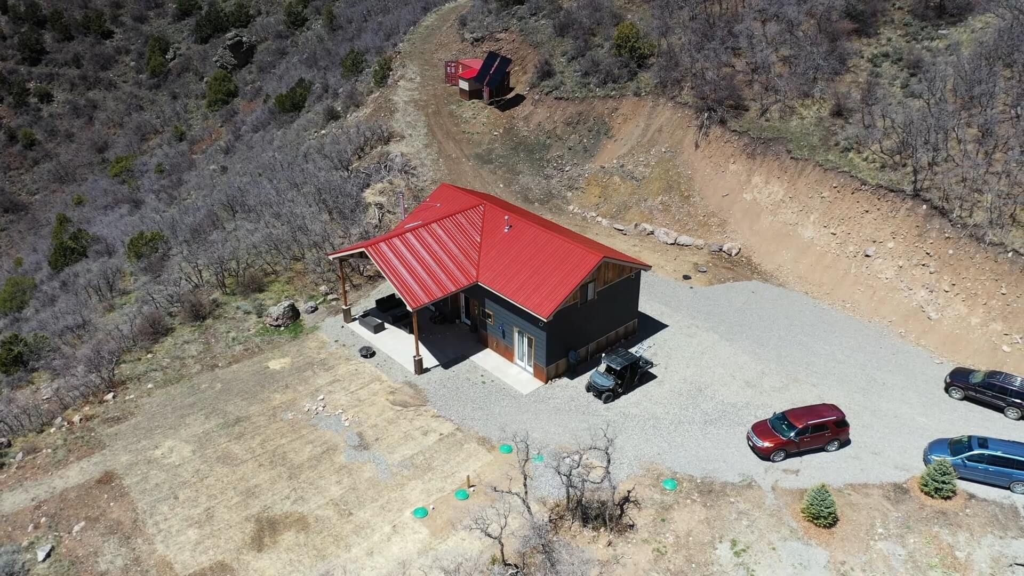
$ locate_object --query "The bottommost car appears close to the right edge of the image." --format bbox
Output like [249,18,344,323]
[923,433,1024,494]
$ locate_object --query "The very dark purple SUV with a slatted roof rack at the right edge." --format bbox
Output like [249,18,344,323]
[941,368,1024,422]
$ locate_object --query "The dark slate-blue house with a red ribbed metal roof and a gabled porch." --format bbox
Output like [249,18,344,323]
[327,183,652,385]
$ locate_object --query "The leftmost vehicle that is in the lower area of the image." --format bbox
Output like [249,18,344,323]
[588,344,652,400]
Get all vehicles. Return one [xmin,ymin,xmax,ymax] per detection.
[588,344,652,400]
[923,433,1024,494]
[941,368,1024,422]
[742,401,853,464]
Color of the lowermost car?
blue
